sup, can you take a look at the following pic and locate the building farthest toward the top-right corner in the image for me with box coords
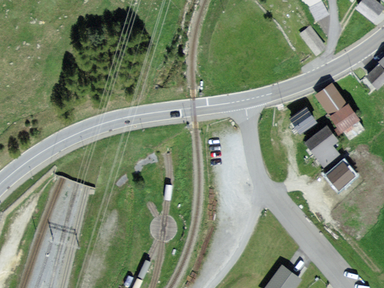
[355,0,384,24]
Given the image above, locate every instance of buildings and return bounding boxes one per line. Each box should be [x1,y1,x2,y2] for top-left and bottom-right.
[322,158,360,194]
[365,64,384,90]
[305,126,346,168]
[290,107,317,134]
[355,0,384,24]
[266,265,302,288]
[309,1,330,22]
[299,26,326,56]
[315,83,346,114]
[328,104,360,134]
